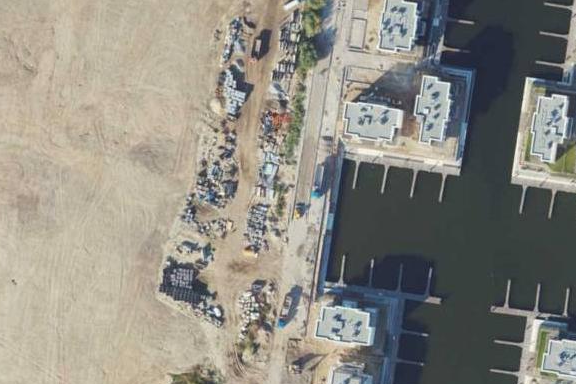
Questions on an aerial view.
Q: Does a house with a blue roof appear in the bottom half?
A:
No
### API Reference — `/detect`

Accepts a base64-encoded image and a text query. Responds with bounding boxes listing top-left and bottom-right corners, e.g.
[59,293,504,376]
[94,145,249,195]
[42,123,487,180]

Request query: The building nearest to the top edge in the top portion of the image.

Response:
[378,0,425,53]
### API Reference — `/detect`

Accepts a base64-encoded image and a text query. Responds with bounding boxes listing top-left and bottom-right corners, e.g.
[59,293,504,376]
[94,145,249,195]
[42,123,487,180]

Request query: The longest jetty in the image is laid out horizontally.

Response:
[491,306,569,321]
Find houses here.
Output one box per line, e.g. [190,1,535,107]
[414,75,458,143]
[314,301,374,345]
[343,98,403,141]
[378,0,425,53]
[540,334,576,376]
[332,369,373,384]
[530,95,572,162]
